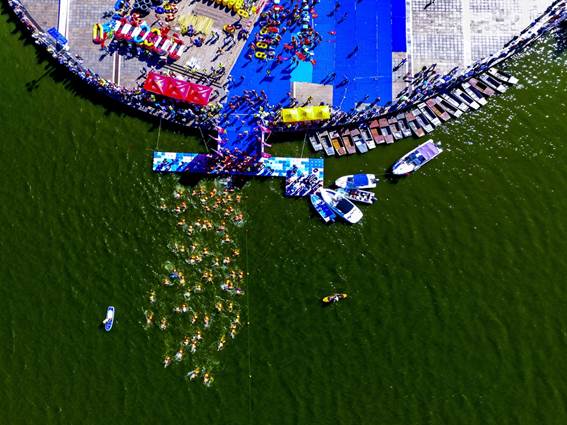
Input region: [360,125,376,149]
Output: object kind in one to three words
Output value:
boat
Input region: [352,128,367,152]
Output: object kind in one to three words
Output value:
boat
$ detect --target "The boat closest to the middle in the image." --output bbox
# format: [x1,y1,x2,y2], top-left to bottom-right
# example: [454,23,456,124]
[311,194,332,222]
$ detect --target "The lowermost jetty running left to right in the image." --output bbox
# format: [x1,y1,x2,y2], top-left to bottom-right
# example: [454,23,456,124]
[153,152,326,199]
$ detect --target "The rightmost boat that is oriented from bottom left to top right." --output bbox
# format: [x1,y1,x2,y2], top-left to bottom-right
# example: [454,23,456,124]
[391,139,441,173]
